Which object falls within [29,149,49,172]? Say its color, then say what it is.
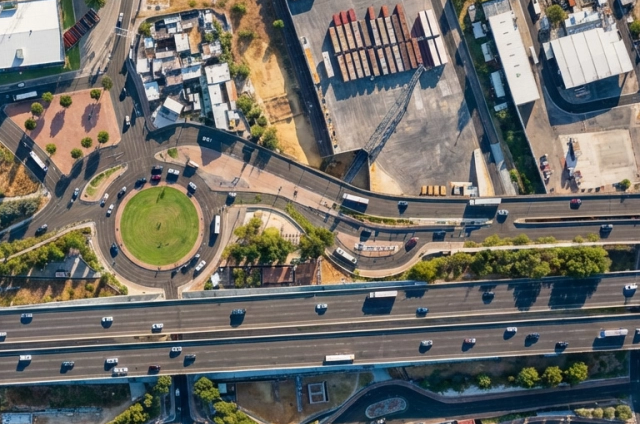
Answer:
white vehicle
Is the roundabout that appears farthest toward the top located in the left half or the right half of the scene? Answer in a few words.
left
